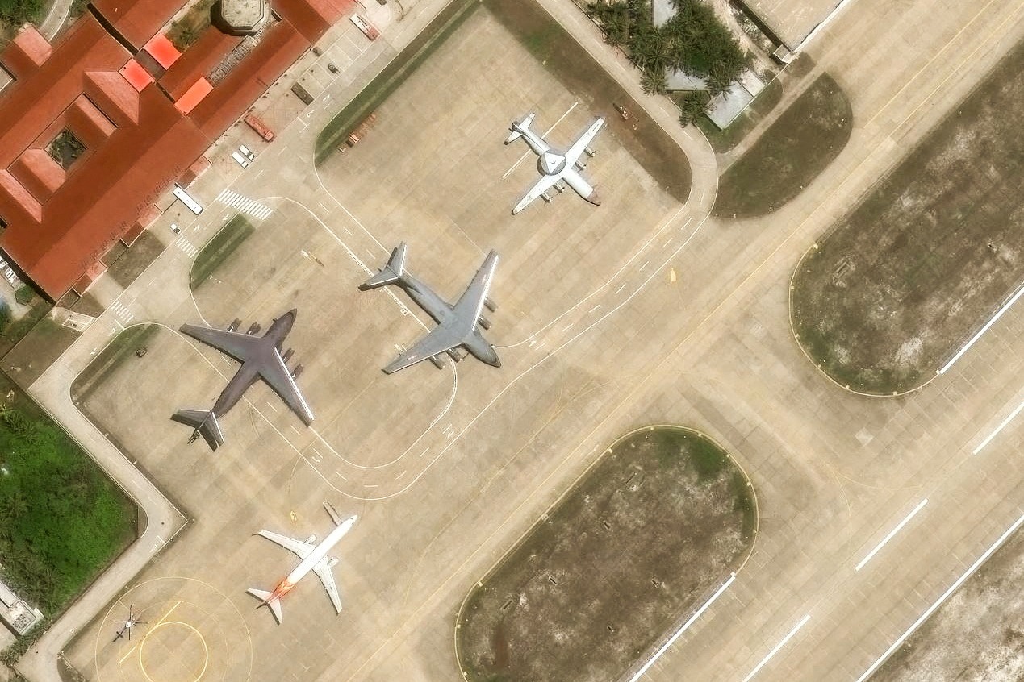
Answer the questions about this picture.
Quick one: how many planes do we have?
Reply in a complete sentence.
The number of planes here is 4.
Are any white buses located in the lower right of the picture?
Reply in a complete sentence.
No, in the lower right of the picture there is no white bus.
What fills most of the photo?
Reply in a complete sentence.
Most of the picture is covered by paved ground.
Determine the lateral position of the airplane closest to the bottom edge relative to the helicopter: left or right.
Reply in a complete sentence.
The airplane closest to the bottom edge is to the right of the helicopter.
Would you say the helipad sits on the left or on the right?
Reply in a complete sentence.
The helipad sits on the left side.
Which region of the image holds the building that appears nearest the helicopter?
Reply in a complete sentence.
The building that appears nearest the helicopter sits in the bottom left section of the image.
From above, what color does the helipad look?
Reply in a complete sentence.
In this view, the helipad is yellow.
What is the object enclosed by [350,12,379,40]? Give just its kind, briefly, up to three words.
bus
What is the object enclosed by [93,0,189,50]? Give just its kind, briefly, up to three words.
building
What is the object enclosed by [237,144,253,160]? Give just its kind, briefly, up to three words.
vehicle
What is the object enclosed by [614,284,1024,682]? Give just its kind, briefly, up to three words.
runway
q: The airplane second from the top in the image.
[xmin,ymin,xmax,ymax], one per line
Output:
[365,241,501,375]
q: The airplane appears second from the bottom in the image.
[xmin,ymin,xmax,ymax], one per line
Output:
[178,310,313,446]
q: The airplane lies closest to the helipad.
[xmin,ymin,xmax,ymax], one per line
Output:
[247,516,358,623]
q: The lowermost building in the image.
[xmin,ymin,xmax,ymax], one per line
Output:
[0,579,45,635]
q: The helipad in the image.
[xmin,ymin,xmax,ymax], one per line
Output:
[96,578,251,682]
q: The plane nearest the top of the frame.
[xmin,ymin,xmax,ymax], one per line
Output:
[502,111,603,214]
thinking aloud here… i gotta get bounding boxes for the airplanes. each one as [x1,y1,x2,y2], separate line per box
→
[365,241,501,375]
[178,310,313,446]
[502,111,603,214]
[247,516,358,623]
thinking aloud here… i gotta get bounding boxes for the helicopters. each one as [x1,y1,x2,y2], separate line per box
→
[112,605,148,642]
